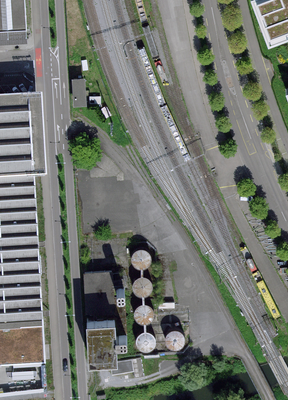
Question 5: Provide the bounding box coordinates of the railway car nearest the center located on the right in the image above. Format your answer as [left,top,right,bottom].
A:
[162,105,190,157]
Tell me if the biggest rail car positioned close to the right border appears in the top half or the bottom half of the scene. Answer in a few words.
bottom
